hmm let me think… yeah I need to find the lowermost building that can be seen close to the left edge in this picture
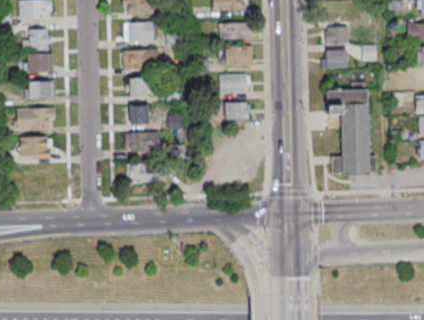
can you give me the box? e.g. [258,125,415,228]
[20,136,53,156]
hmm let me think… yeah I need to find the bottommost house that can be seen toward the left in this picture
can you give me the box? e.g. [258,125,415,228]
[126,162,159,181]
